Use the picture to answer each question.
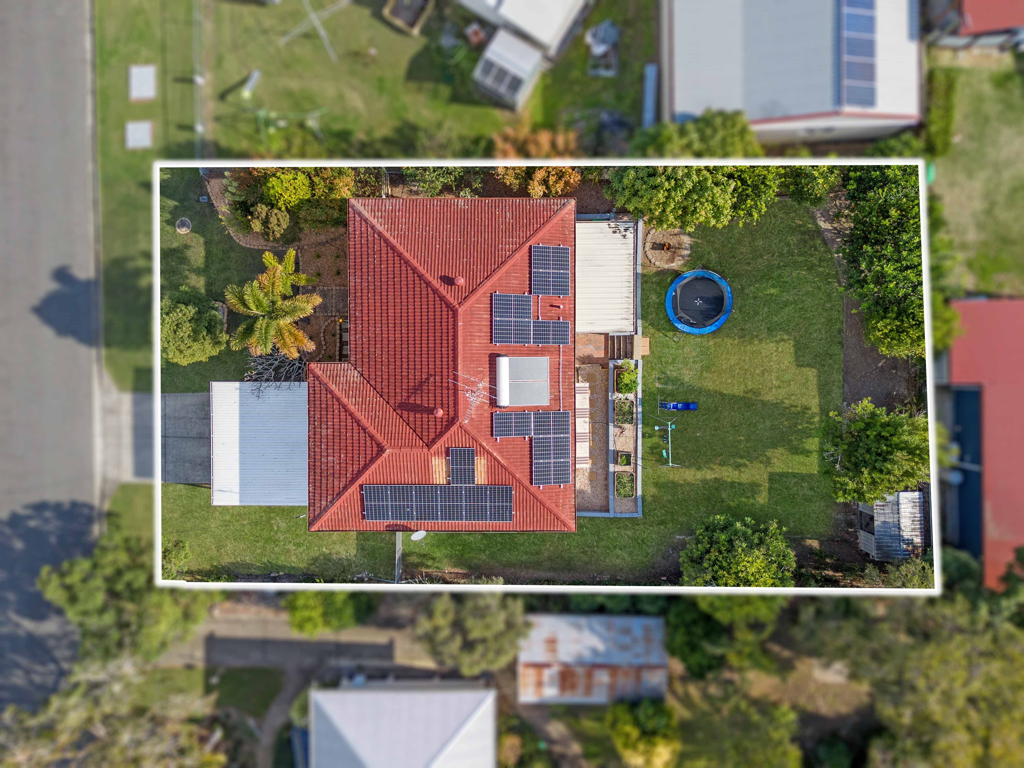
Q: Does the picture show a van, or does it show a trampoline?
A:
trampoline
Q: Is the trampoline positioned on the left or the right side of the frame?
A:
right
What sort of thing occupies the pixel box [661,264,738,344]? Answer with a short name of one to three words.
trampoline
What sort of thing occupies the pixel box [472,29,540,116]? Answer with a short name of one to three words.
shed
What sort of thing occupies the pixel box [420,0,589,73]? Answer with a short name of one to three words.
house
